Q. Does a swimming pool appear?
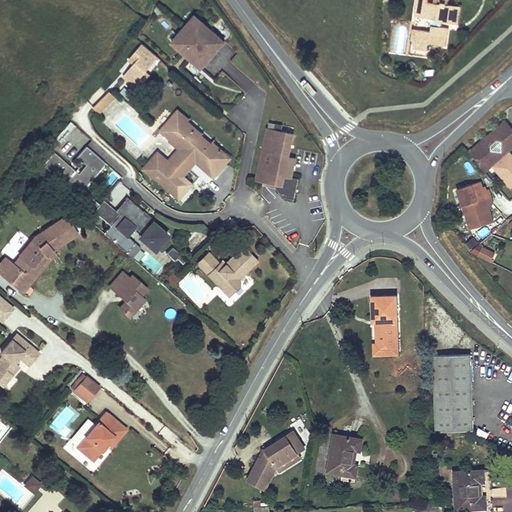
Yes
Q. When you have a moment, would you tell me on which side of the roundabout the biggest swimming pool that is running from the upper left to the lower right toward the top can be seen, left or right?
on its left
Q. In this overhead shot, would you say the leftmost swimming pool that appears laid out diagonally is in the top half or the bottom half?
bottom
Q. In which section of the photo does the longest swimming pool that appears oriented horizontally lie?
center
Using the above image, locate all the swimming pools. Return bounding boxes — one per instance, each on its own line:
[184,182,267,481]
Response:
[50,405,80,438]
[164,308,176,320]
[106,172,119,186]
[0,470,34,510]
[140,253,164,275]
[114,112,150,146]
[464,161,476,176]
[180,272,253,308]
[476,226,490,240]
[0,419,10,444]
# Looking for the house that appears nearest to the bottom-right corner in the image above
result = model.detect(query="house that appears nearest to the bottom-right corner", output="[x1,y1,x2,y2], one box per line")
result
[452,470,488,512]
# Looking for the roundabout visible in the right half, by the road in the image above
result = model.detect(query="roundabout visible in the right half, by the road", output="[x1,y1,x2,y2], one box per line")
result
[324,130,436,242]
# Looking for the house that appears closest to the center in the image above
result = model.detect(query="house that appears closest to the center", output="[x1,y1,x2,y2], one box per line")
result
[198,252,261,298]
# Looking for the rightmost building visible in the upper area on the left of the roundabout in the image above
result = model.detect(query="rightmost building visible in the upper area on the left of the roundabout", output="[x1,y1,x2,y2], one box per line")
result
[256,122,299,201]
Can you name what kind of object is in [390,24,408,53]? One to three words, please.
greenhouse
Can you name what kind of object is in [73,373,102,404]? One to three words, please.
house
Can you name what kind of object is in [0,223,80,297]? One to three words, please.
house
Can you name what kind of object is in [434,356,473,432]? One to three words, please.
building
